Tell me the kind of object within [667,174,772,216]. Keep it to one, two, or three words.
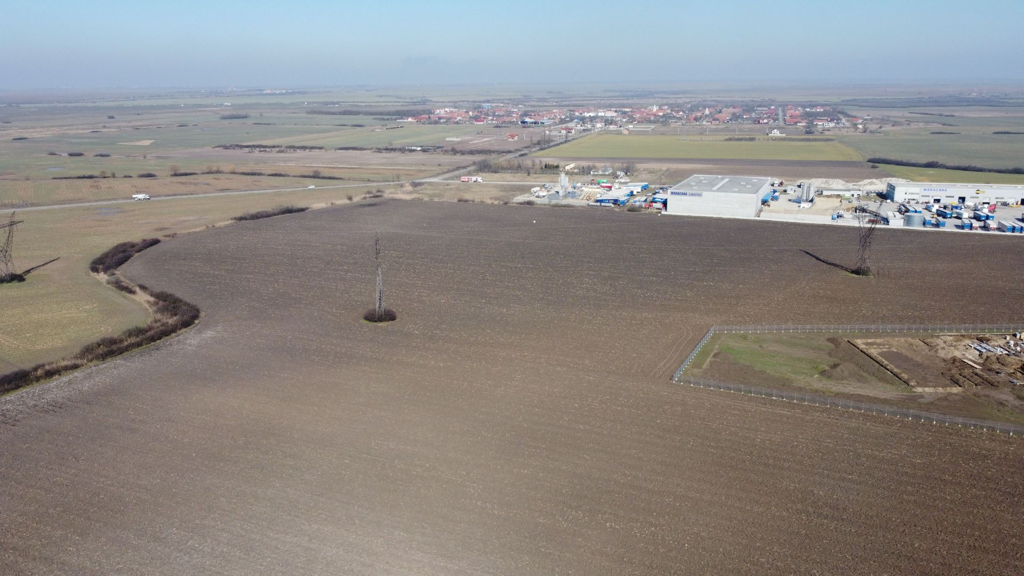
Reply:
building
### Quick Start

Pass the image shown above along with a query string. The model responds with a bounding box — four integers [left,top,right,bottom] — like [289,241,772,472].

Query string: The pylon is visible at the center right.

[853,195,887,274]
